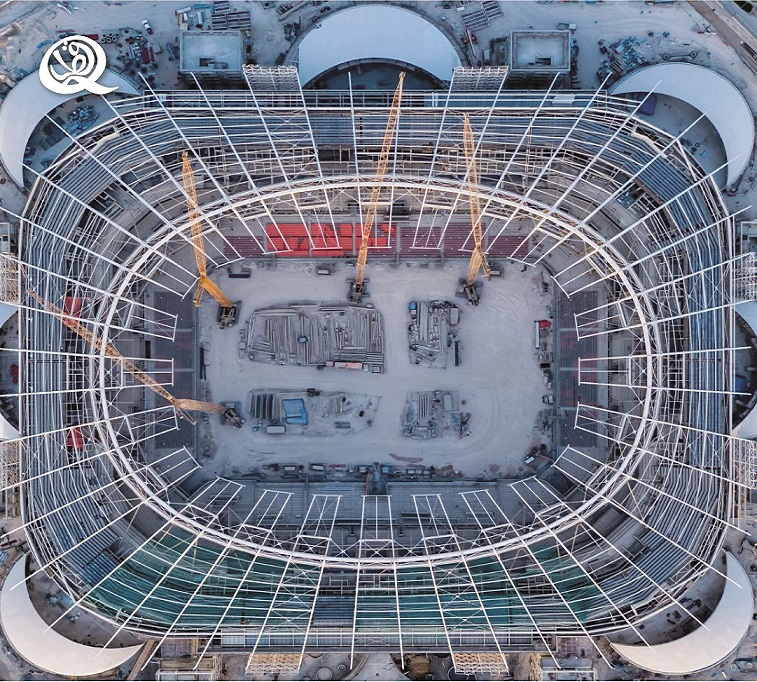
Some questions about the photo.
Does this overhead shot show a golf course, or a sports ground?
sports ground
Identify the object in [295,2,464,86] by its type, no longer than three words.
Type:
building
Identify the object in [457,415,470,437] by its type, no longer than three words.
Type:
vehicle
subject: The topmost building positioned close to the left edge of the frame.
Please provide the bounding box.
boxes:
[0,59,143,197]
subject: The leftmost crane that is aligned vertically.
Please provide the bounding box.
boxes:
[182,151,233,337]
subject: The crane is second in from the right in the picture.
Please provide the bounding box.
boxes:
[344,70,404,310]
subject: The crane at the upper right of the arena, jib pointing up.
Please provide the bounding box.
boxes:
[446,111,492,309]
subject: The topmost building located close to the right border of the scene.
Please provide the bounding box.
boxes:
[606,59,757,197]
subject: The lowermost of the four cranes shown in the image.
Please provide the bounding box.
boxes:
[25,288,249,429]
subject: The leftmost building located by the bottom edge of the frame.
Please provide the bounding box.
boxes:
[0,546,149,682]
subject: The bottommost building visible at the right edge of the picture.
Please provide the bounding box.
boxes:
[602,546,757,682]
